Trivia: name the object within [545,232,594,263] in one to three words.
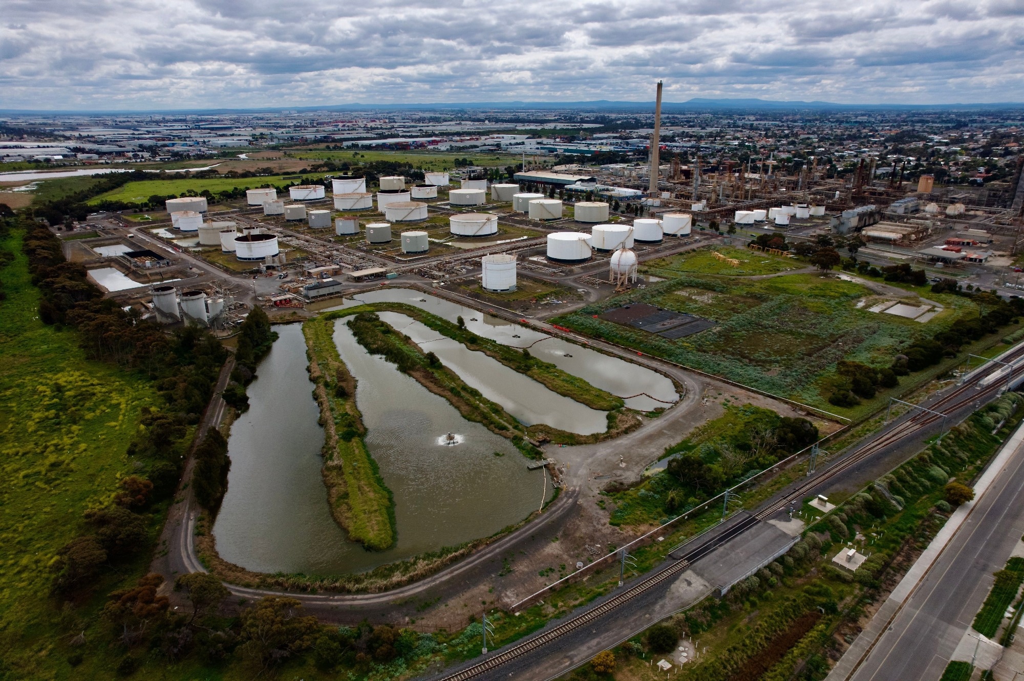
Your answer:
storage tank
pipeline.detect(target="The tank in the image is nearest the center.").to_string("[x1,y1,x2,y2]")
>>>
[479,254,519,293]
